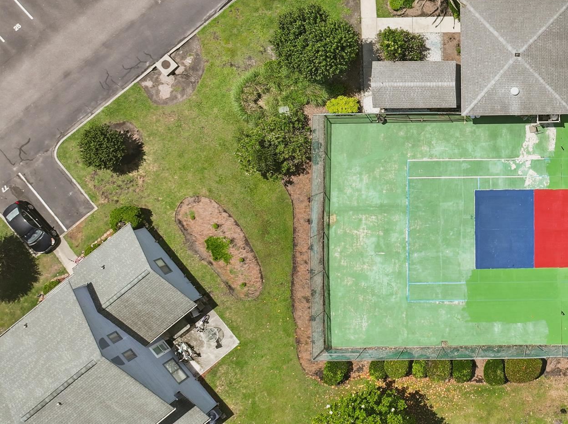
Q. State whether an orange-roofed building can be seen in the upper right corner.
No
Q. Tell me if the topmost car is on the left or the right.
left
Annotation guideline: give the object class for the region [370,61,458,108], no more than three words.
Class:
shed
